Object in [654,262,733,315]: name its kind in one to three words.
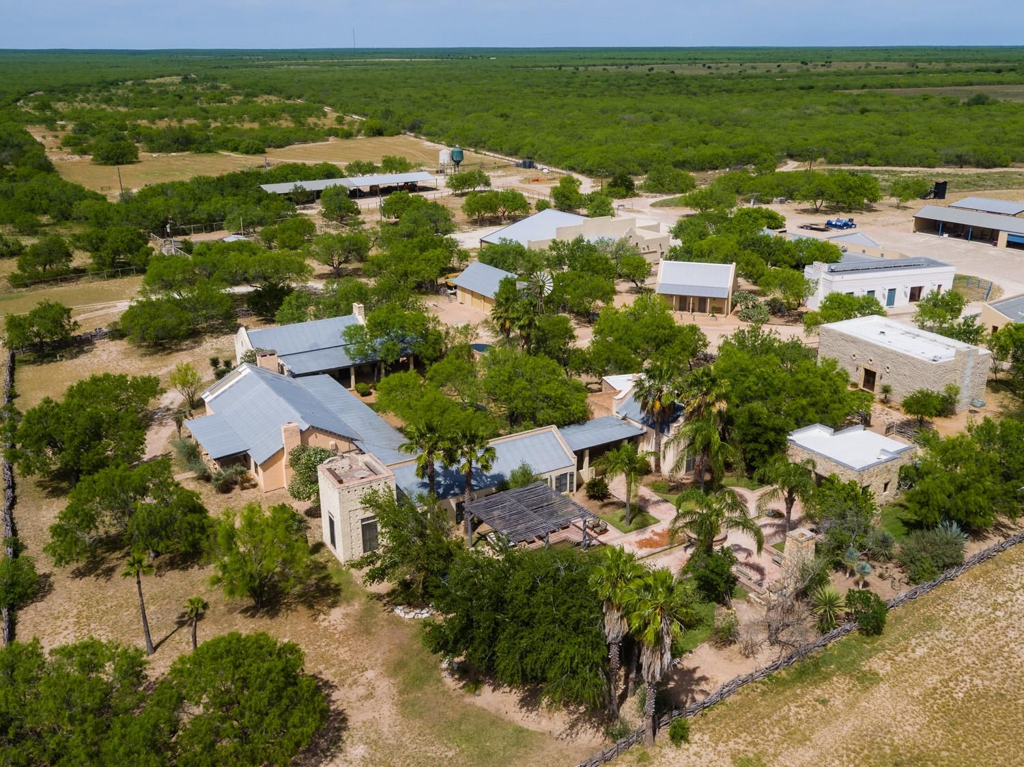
house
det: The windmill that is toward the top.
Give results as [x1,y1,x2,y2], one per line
[513,269,556,317]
